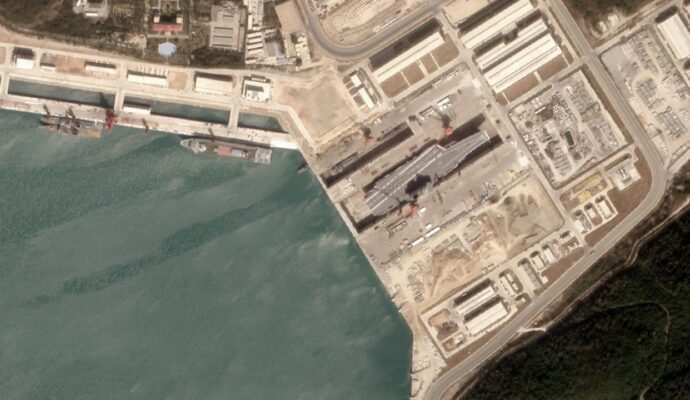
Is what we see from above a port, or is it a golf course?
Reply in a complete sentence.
What you see here is a port.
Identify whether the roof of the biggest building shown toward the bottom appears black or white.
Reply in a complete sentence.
The roof of the biggest building shown toward the bottom is white.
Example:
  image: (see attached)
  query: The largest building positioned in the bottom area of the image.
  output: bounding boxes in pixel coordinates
[465,300,508,335]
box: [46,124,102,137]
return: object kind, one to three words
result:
ship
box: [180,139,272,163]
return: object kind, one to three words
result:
ship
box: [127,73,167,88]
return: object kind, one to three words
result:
building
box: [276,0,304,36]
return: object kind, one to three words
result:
building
